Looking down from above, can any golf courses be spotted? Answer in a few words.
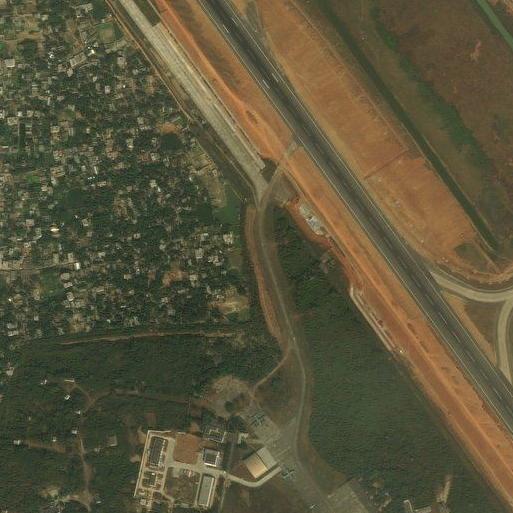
No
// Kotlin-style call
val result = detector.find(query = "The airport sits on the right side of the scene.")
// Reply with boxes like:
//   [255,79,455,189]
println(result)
[195,0,513,438]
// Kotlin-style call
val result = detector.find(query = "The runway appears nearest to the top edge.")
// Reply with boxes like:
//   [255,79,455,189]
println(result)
[120,0,300,205]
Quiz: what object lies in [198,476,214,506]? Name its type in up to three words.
building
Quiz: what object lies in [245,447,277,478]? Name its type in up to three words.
hangar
